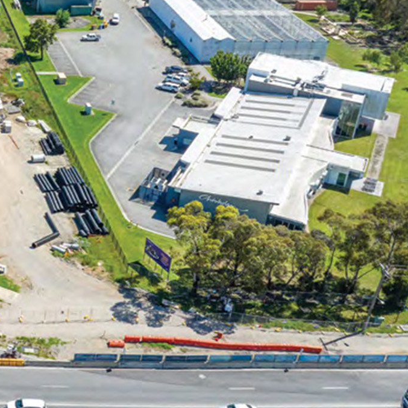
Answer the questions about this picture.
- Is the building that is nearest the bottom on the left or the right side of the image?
right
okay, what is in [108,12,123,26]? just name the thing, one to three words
vehicle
